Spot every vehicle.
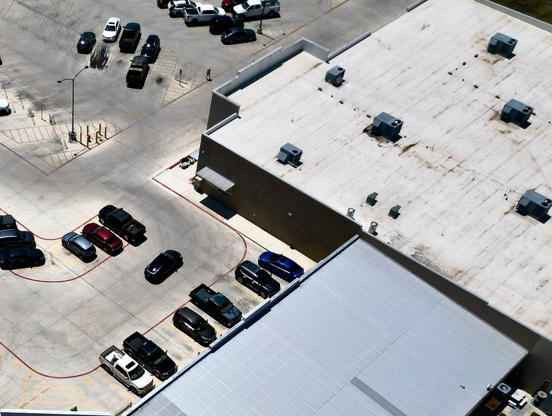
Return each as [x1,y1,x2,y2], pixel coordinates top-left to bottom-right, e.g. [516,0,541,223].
[208,15,244,35]
[231,0,283,21]
[143,253,185,285]
[189,283,244,328]
[168,0,200,17]
[0,215,19,230]
[257,254,305,283]
[182,2,227,24]
[171,307,217,347]
[103,19,121,43]
[119,23,141,52]
[141,35,160,61]
[0,229,36,253]
[81,226,125,255]
[77,35,96,55]
[0,102,10,118]
[97,205,149,242]
[220,29,256,47]
[60,236,99,263]
[233,260,281,296]
[125,56,149,87]
[97,346,155,395]
[220,0,251,12]
[120,331,179,378]
[0,249,45,271]
[156,0,171,10]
